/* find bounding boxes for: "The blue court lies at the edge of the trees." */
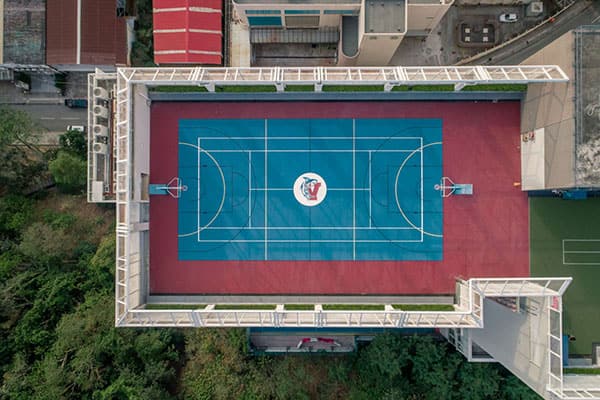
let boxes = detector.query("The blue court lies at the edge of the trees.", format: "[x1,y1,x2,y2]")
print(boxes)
[150,100,530,294]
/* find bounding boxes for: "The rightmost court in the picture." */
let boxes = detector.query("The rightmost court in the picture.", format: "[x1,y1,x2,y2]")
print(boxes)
[530,190,600,350]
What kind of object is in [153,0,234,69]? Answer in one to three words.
building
